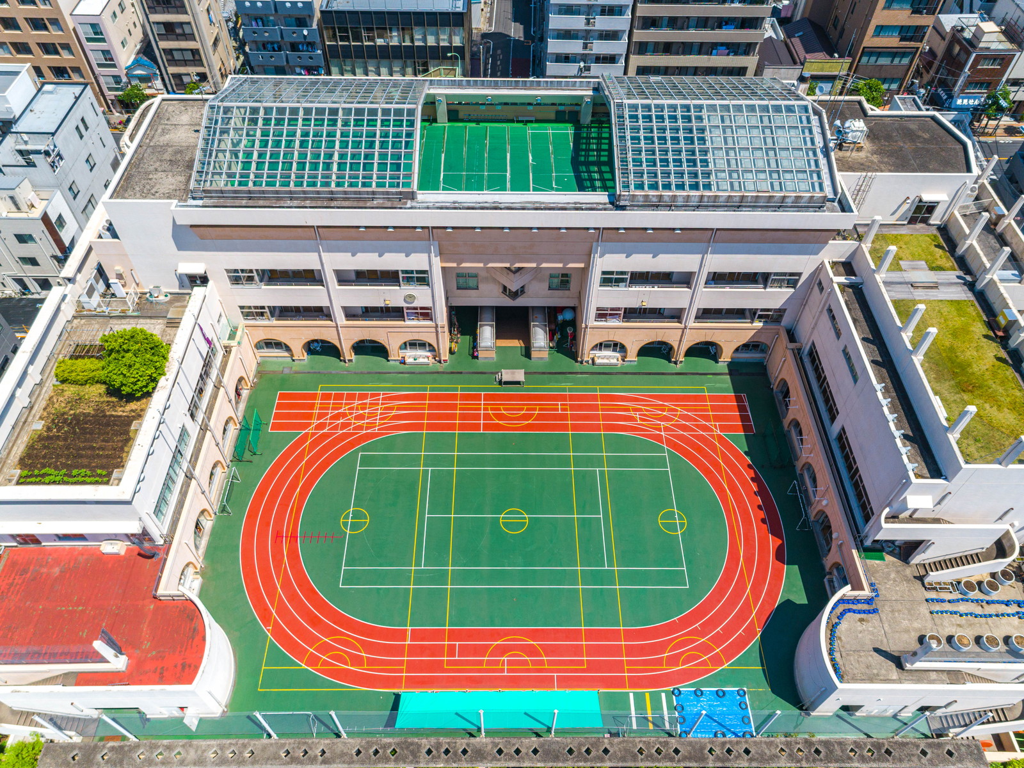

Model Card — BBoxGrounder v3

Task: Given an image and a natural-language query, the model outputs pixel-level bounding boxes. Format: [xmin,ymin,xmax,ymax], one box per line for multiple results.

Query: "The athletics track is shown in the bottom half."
[245,392,781,689]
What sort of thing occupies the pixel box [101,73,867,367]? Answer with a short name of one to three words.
building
